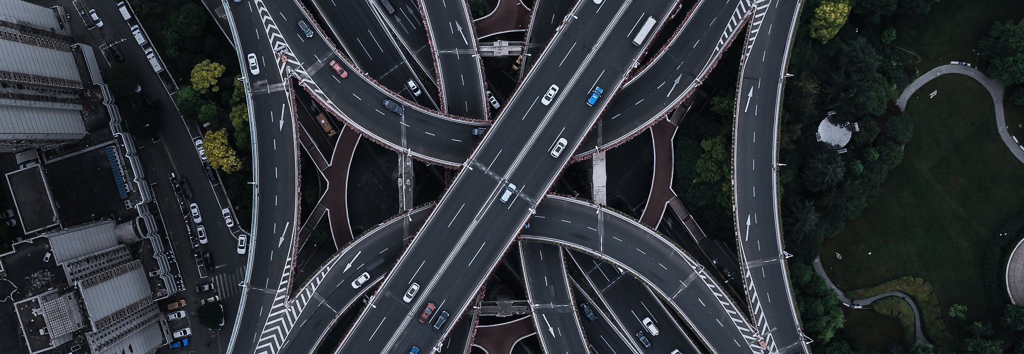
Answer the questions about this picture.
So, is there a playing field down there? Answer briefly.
No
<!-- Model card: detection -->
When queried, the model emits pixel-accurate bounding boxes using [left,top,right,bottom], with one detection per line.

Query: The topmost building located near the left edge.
[0,0,92,150]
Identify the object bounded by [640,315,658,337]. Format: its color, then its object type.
white car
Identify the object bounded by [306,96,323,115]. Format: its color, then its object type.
black car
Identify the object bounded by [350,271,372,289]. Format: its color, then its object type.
white car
